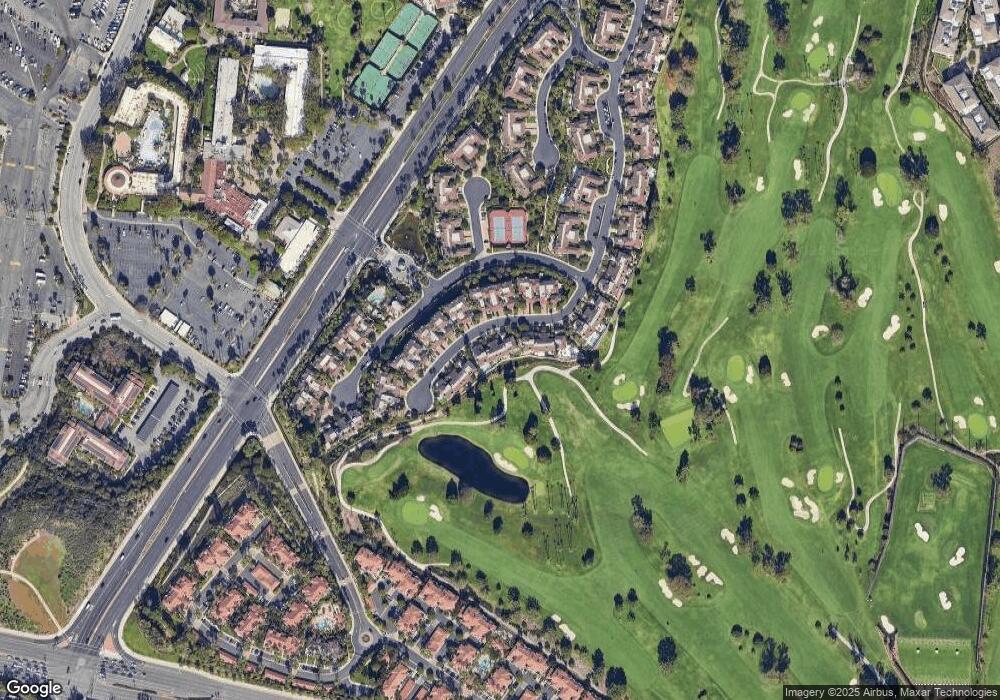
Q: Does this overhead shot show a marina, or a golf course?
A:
golf course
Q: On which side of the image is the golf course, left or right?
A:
right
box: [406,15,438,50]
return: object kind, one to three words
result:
tennis court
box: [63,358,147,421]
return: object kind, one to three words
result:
building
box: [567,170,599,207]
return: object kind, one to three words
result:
house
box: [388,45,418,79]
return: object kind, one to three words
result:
tennis court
